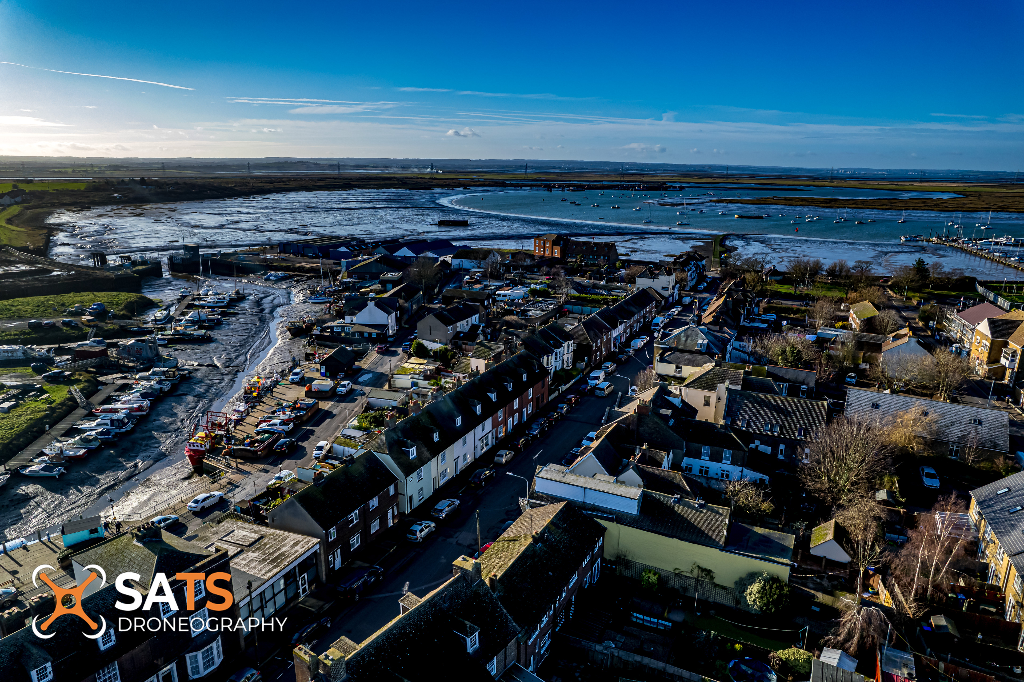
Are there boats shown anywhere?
Yes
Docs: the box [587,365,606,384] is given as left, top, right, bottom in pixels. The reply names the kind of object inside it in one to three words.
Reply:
vehicle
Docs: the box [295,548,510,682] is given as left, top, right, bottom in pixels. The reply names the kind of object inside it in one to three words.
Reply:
house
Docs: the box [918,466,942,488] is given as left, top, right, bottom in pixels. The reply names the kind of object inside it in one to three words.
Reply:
car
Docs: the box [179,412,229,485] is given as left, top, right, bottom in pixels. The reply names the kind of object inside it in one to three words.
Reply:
boat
